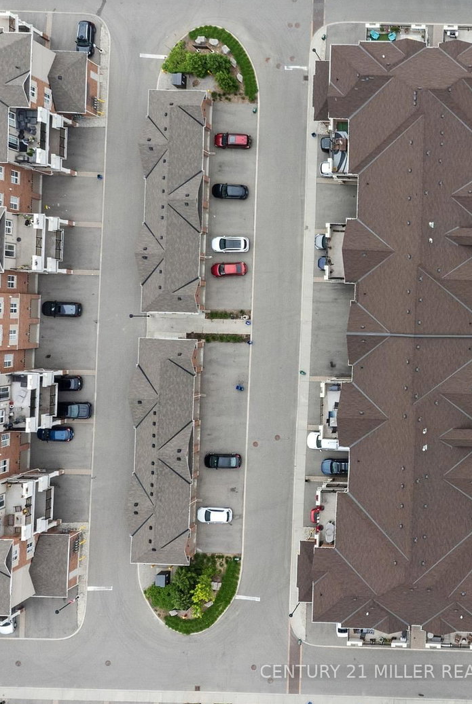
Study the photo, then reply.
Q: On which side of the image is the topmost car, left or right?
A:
left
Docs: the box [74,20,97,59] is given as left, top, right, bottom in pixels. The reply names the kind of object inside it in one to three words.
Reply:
car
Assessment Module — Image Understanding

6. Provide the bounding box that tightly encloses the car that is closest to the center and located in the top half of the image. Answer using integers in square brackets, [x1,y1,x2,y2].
[212,261,247,278]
